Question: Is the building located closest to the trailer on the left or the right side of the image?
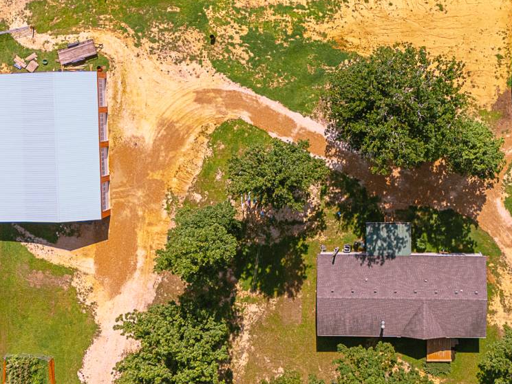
left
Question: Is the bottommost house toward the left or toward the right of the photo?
right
